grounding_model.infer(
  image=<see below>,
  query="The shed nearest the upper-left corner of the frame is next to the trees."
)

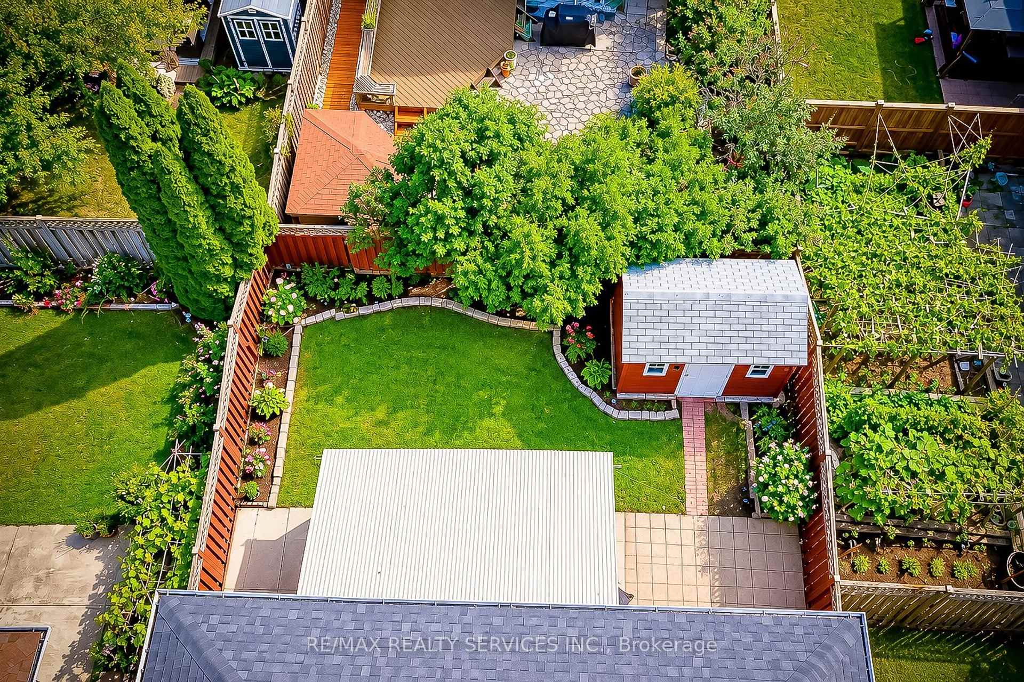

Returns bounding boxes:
[214,0,302,71]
